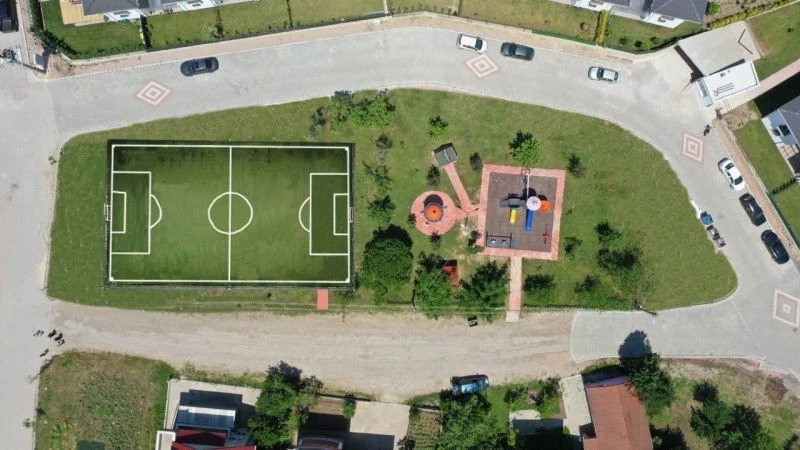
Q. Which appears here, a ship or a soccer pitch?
soccer pitch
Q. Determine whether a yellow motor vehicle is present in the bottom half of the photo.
No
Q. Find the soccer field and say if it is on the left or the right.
left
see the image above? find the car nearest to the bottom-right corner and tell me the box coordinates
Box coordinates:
[759,229,791,266]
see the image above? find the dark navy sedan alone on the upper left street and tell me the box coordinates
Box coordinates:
[180,55,219,77]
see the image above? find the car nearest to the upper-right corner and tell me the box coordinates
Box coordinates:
[717,157,747,191]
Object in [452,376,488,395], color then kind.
blue car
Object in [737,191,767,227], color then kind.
black car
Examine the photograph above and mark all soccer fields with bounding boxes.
[107,141,353,289]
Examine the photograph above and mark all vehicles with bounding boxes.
[587,65,620,84]
[717,157,747,191]
[0,49,17,58]
[737,191,767,227]
[0,0,19,32]
[452,376,488,395]
[455,34,488,54]
[180,55,219,77]
[759,229,791,266]
[500,41,536,62]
